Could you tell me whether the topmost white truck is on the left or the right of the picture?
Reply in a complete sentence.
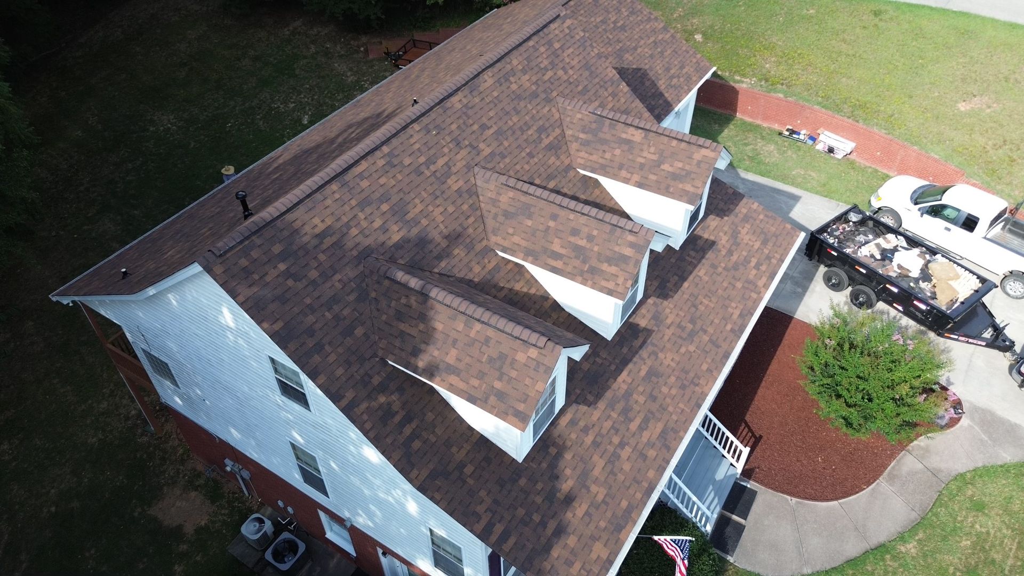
You can find the topmost white truck on the right side of the picture.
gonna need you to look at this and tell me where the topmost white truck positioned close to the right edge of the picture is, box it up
[863,170,1024,299]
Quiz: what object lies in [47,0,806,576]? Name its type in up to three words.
house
